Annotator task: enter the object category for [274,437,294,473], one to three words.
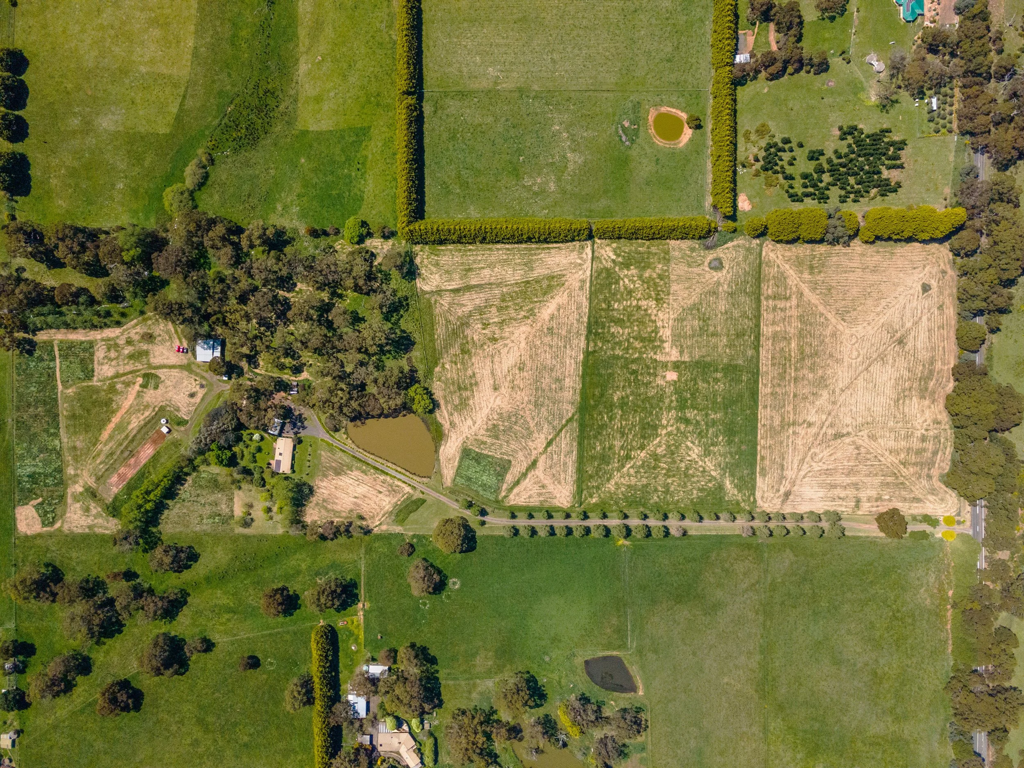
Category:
house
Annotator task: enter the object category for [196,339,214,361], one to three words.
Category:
shed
